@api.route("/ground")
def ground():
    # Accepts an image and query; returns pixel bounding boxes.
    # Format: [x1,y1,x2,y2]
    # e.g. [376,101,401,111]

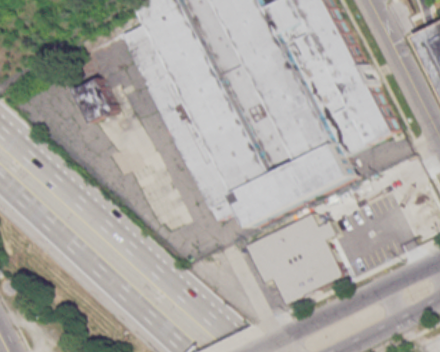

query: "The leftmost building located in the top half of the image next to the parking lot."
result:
[124,0,402,228]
